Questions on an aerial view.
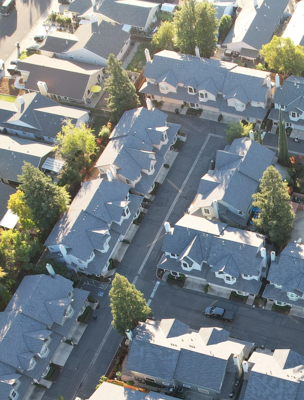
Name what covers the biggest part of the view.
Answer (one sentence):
The scene is dominated by buildings.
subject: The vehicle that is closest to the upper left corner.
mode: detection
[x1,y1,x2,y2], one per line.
[0,0,17,14]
